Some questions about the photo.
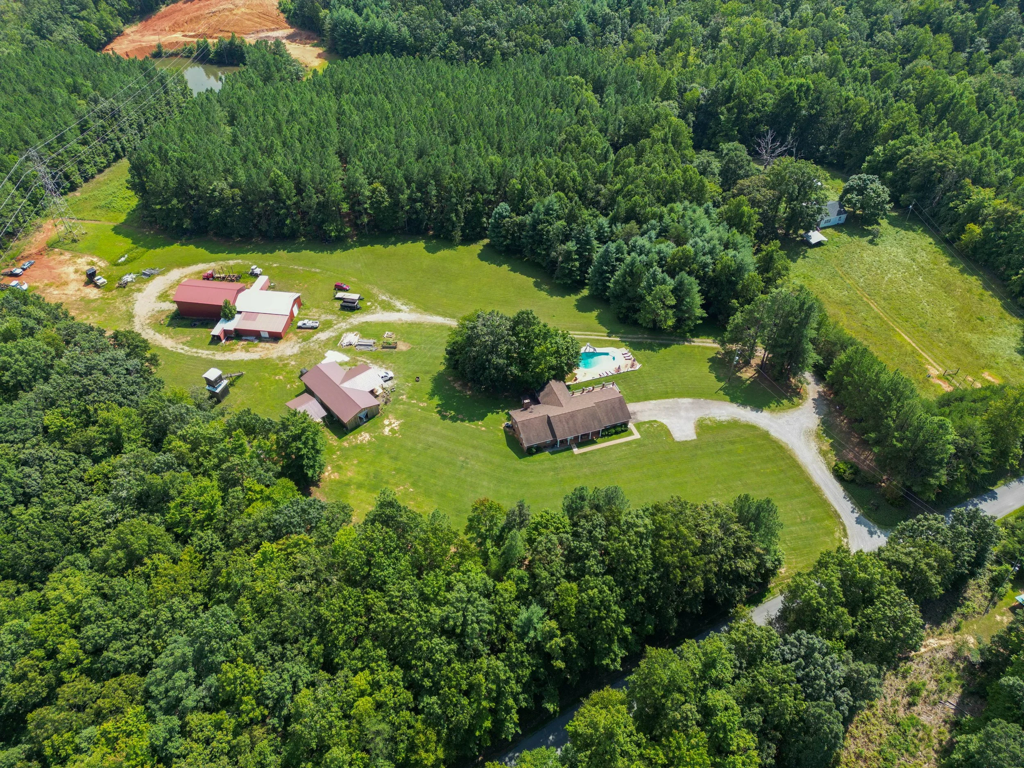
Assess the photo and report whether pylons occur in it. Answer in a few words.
Yes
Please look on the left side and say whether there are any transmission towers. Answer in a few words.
Yes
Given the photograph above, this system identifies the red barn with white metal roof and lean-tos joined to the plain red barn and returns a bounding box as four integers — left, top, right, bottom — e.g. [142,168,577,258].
[210,275,302,341]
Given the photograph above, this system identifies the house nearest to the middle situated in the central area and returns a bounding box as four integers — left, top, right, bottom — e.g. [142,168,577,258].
[509,379,632,455]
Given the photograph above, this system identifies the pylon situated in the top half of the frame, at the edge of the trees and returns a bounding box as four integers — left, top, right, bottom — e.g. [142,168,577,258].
[22,151,89,243]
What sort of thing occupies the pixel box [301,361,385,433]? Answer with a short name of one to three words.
barn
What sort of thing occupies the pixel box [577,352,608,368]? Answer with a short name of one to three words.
swimming pool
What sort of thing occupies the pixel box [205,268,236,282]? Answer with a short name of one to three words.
vehicle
